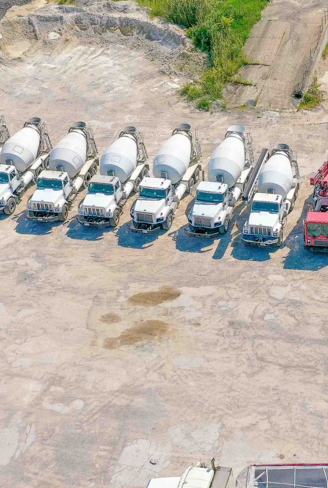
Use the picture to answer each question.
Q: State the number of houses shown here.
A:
0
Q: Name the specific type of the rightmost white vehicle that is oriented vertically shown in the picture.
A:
truck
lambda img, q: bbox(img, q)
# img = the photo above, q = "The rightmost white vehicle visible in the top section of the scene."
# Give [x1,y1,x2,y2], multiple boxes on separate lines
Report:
[242,138,300,245]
